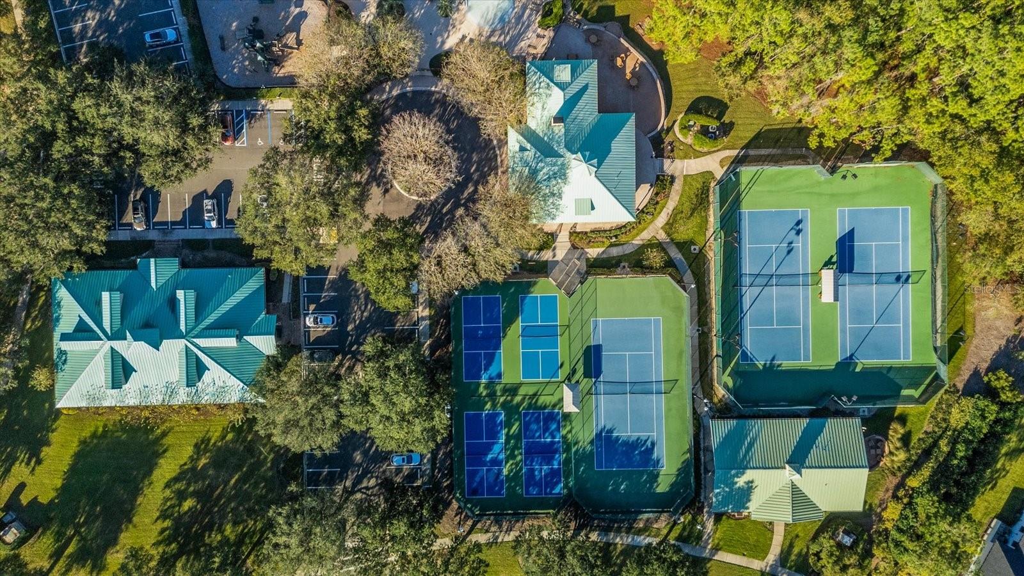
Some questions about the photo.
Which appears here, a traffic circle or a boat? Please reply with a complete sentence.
Looking from above, you can make out a traffic circle.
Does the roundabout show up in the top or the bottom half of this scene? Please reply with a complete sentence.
The roundabout is in the top half of the image.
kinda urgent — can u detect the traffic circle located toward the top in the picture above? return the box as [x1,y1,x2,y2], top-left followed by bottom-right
[350,69,506,230]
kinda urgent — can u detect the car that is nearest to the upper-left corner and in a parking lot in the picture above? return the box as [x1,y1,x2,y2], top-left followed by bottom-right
[143,27,179,46]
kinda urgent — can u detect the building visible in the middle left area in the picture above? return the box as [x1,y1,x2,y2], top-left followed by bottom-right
[52,256,283,409]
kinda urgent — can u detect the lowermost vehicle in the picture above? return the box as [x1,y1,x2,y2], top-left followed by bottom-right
[389,452,421,467]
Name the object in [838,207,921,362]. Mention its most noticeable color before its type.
blue tennis court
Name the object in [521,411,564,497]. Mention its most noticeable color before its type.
blue sports court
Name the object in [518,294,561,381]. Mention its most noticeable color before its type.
blue sports court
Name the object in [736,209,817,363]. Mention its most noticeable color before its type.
blue tennis court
